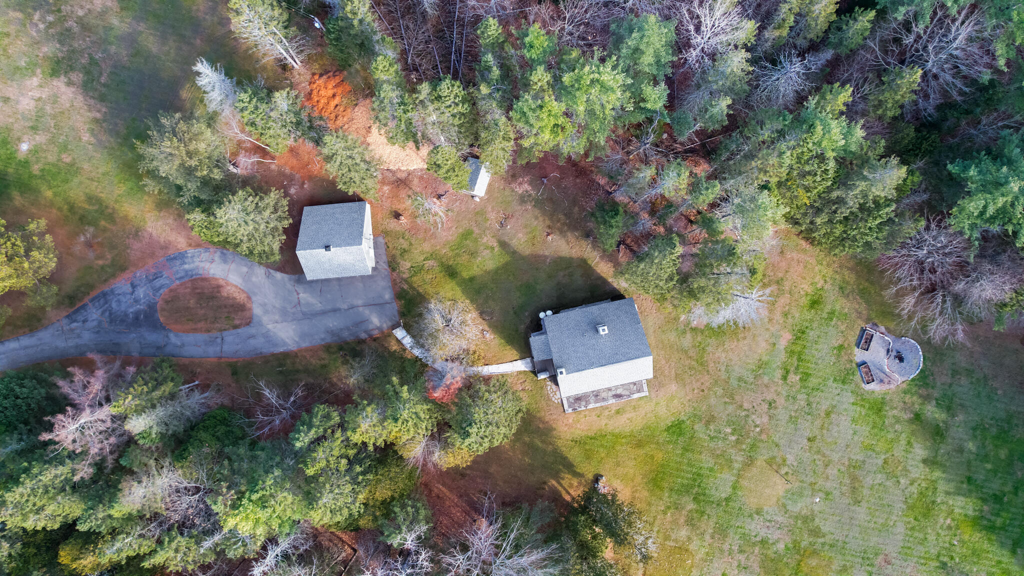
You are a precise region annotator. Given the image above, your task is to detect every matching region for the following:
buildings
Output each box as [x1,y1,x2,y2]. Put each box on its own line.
[296,201,376,281]
[460,160,491,193]
[529,297,654,398]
